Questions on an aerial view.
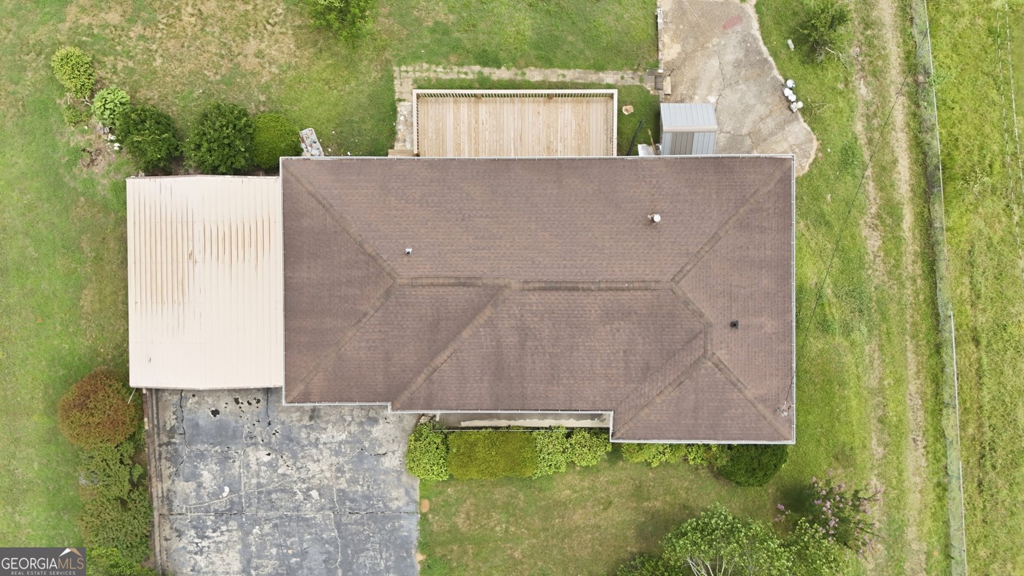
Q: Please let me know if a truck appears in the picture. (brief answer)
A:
No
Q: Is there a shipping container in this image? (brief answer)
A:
No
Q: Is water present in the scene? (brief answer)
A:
No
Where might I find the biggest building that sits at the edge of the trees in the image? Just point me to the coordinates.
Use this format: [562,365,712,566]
[280,154,797,445]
